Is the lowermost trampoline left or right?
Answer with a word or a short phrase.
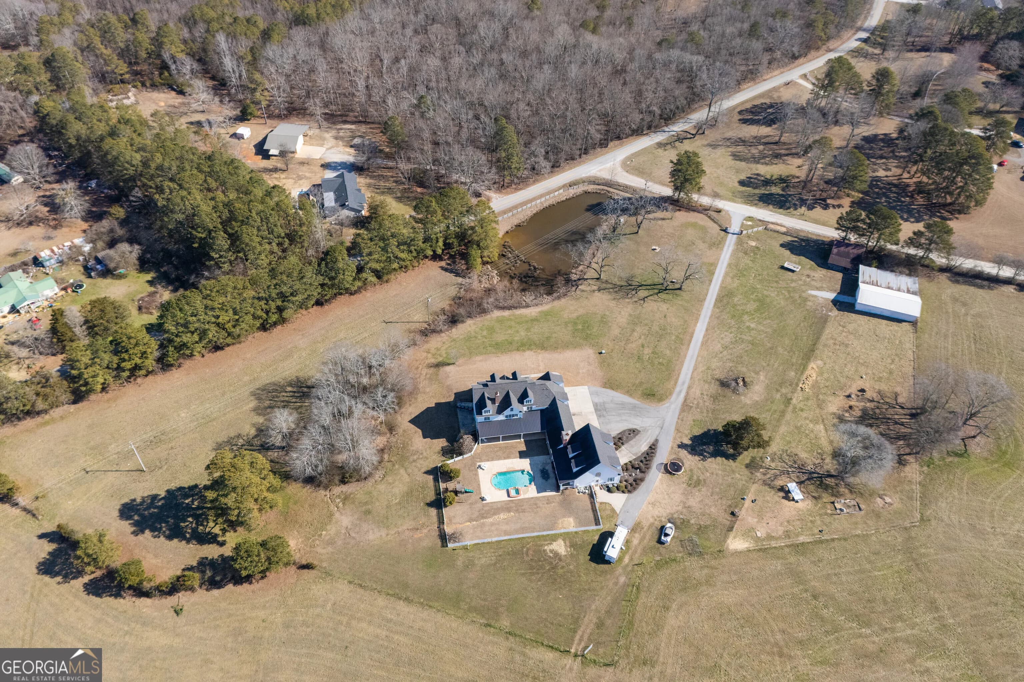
right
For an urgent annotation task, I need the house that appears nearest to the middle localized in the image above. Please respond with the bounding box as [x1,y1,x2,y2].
[471,371,623,492]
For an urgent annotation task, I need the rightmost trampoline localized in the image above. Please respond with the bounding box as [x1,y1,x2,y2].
[666,454,687,475]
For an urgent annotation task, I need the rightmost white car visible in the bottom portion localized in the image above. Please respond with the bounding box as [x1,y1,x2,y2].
[661,522,674,543]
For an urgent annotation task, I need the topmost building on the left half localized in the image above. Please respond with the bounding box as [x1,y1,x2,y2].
[261,123,317,160]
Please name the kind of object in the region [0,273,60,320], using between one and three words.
building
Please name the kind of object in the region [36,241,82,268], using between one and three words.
shed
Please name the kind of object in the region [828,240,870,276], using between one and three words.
barn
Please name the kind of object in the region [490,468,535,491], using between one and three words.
swimming pool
